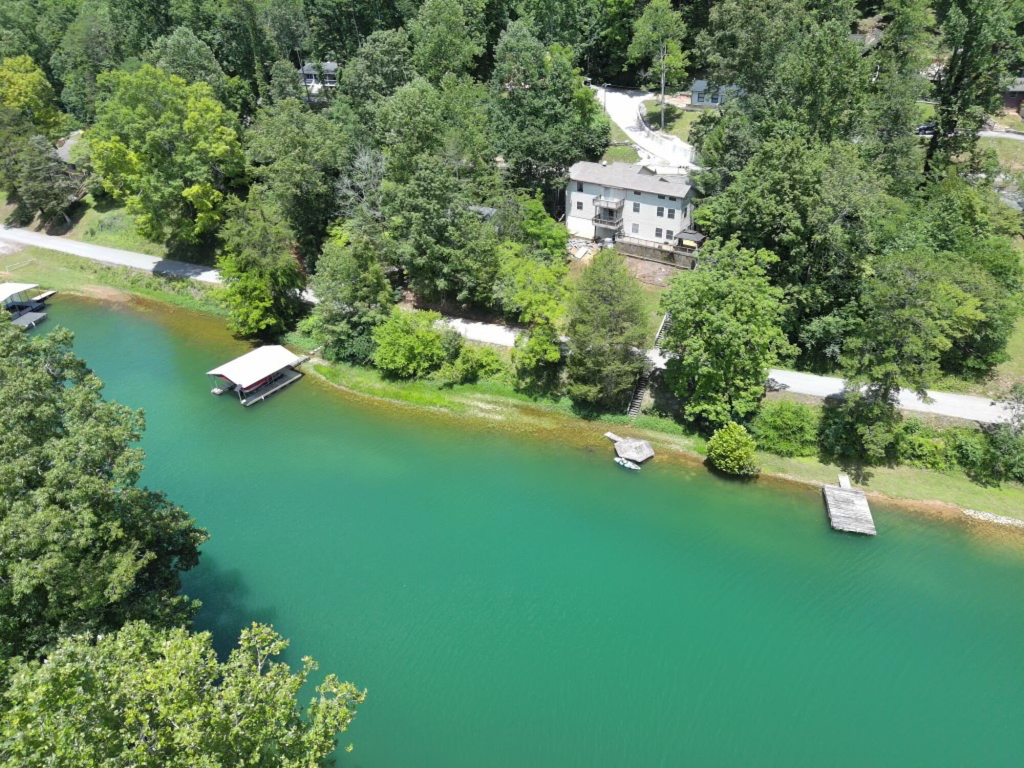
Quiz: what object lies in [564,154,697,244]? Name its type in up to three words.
house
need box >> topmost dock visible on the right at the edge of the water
[614,438,654,465]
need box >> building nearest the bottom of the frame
[206,343,306,411]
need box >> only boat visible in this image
[614,458,641,470]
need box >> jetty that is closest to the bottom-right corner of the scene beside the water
[823,486,876,537]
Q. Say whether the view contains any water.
Yes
